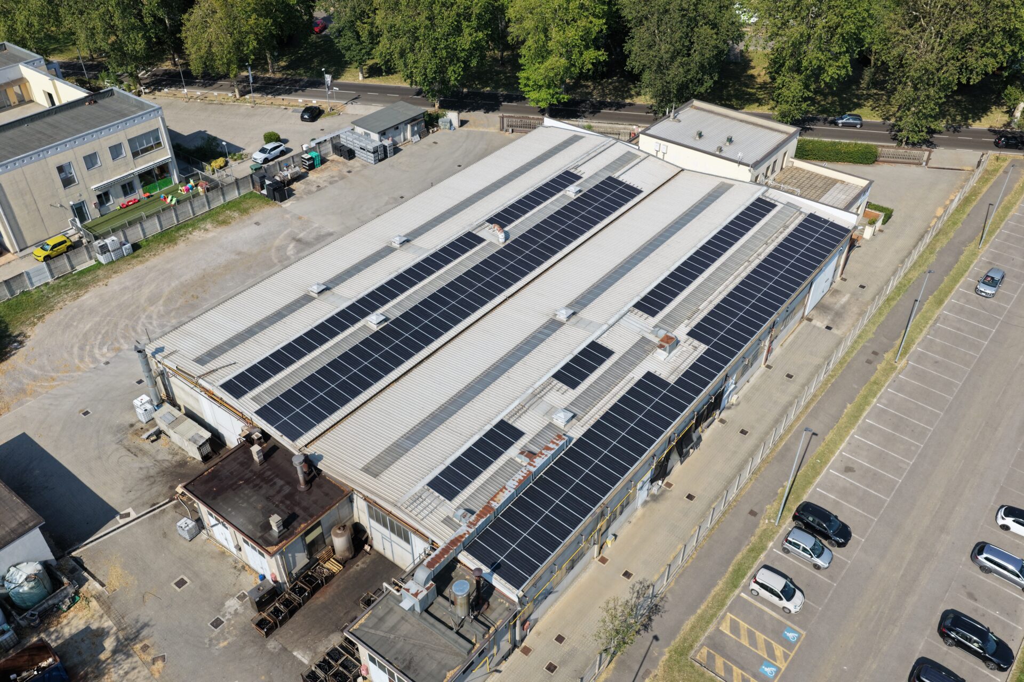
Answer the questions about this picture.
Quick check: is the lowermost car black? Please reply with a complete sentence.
Yes, the lowermost car is indeed black.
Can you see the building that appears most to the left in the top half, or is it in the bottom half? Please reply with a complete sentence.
The building that appears most to the left is in the bottom half of the image.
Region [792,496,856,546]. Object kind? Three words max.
car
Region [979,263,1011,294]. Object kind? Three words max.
car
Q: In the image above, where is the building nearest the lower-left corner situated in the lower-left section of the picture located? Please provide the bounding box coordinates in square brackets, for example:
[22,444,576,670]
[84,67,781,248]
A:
[0,479,59,581]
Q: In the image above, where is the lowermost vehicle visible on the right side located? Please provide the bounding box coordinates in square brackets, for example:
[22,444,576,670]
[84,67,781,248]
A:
[905,651,971,682]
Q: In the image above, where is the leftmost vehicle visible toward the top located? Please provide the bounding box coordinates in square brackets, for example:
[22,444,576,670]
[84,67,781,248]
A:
[33,230,77,259]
